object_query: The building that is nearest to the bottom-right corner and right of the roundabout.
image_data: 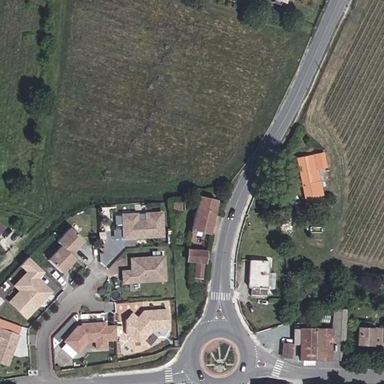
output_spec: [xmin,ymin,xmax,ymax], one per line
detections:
[359,328,384,347]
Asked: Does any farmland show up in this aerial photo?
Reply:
Yes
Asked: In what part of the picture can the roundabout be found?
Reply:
bottom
